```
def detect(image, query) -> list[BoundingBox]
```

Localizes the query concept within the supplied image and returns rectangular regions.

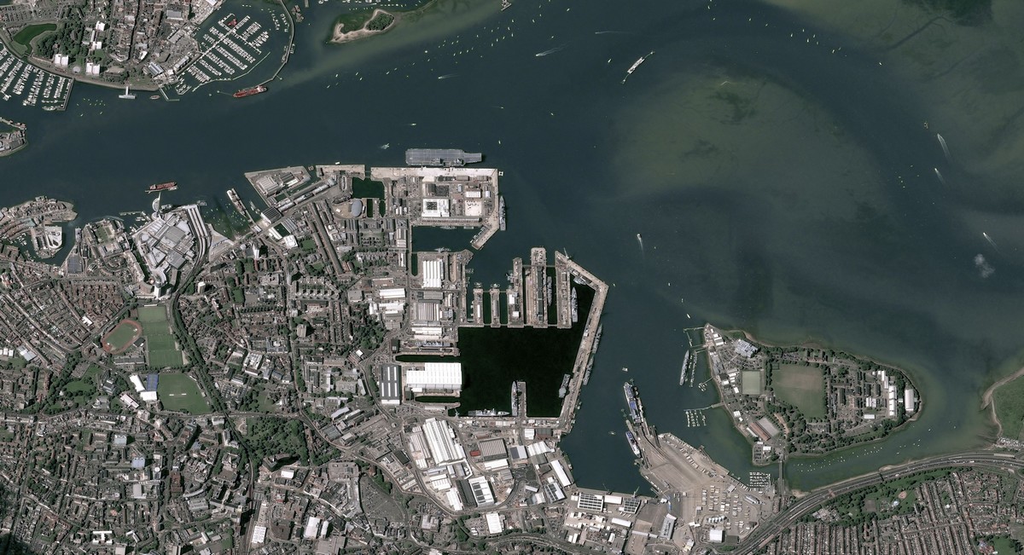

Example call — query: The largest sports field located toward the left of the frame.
[158,372,210,413]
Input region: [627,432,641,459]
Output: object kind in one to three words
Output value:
ship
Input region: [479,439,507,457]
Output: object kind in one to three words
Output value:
shed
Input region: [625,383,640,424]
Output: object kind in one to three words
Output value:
ship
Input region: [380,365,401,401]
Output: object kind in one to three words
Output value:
building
